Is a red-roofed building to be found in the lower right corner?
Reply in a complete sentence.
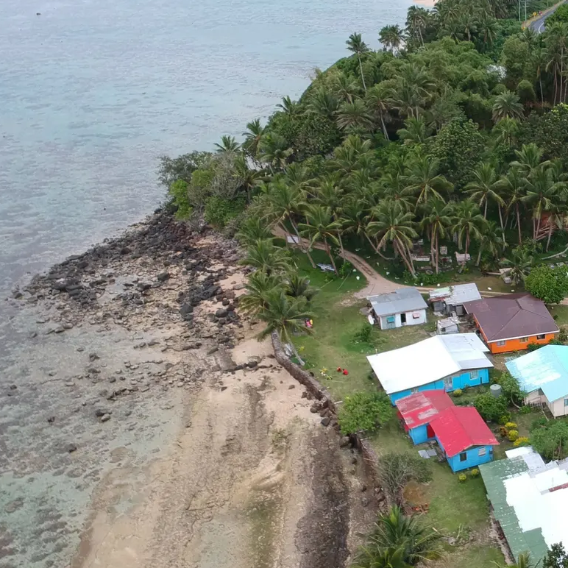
Yes, a red-roofed building is visible in the lower right corner.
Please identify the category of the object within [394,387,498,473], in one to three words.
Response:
house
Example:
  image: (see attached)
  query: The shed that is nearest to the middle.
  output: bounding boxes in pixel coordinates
[366,282,424,329]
